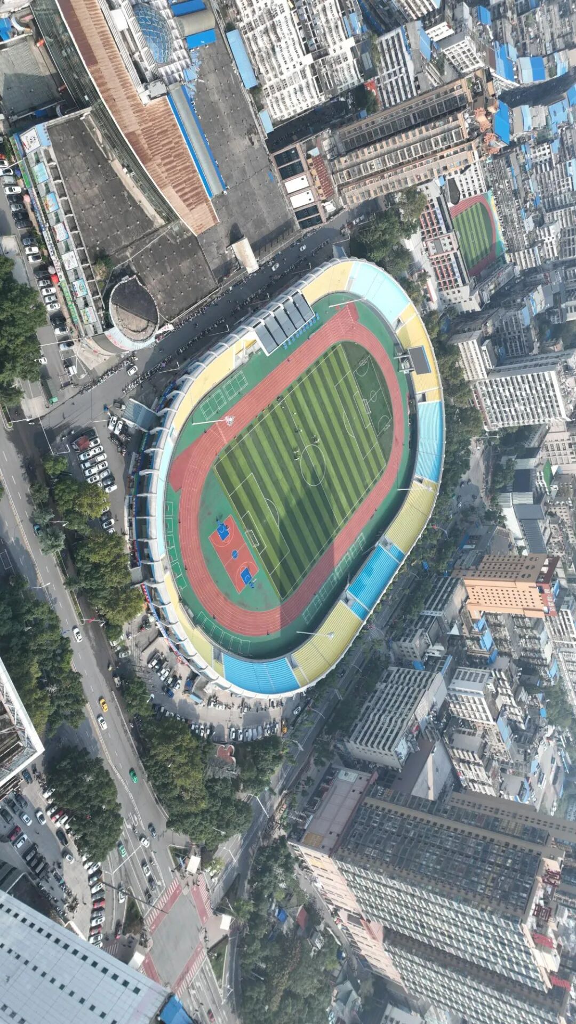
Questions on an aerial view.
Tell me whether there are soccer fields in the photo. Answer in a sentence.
Yes, there's a soccer field down there.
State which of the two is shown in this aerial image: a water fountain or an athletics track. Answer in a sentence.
Looking from above, you can make out an athletics track.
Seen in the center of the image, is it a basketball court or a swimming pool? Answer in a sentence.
The one visible in the center of the image is a basketball court.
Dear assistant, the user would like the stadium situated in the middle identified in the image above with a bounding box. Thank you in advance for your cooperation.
[117,245,445,701]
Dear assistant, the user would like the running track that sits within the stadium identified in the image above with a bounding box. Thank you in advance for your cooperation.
[170,299,403,635]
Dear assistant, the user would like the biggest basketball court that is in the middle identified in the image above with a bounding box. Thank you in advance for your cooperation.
[209,515,259,594]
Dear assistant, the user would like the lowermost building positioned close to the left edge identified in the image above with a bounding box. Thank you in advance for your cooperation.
[0,891,194,1024]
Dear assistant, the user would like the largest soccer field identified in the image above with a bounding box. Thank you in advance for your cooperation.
[212,341,393,604]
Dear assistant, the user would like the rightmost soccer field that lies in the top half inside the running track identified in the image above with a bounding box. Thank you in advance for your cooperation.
[354,356,392,436]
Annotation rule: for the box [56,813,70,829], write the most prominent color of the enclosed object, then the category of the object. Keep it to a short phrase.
white car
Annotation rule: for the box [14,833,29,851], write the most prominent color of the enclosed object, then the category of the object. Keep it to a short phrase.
white car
